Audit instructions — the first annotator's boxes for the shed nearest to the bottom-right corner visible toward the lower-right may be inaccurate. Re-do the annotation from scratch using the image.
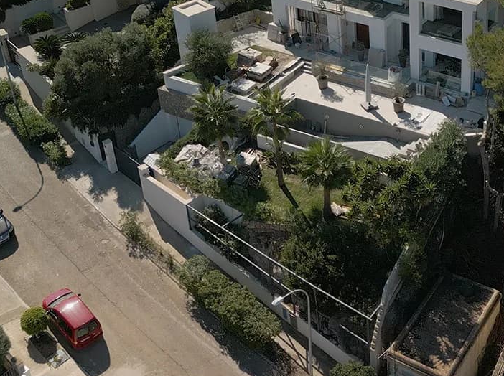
[385,272,503,376]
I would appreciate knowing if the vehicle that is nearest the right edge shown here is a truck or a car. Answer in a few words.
car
